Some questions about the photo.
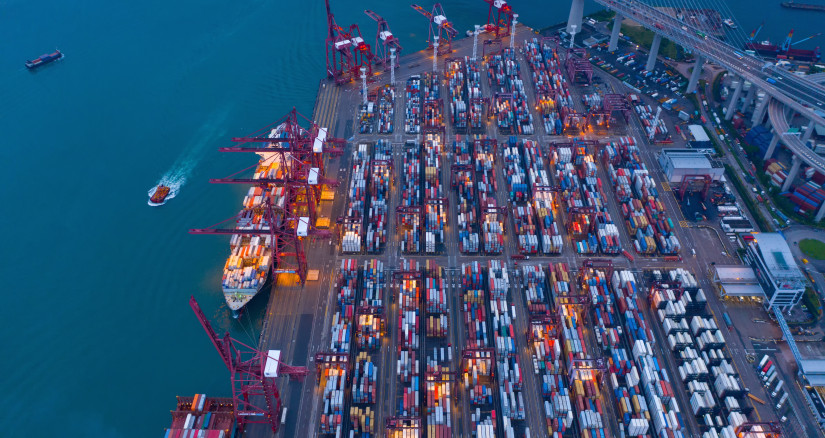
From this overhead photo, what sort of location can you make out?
port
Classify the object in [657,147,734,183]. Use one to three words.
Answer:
building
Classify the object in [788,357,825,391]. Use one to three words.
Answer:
building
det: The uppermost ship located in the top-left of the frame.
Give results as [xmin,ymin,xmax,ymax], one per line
[24,48,60,68]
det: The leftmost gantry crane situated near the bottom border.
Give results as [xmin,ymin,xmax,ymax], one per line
[183,298,305,432]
